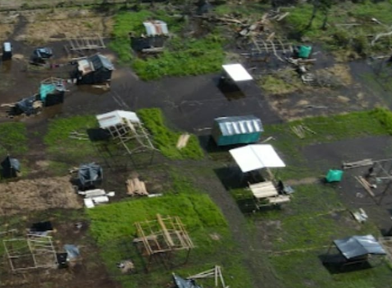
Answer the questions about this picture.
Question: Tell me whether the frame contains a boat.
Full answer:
No, no boat is visible in the scene.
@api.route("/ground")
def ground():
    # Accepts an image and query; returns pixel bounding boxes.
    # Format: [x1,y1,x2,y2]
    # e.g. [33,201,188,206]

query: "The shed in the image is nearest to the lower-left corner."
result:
[3,236,56,277]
